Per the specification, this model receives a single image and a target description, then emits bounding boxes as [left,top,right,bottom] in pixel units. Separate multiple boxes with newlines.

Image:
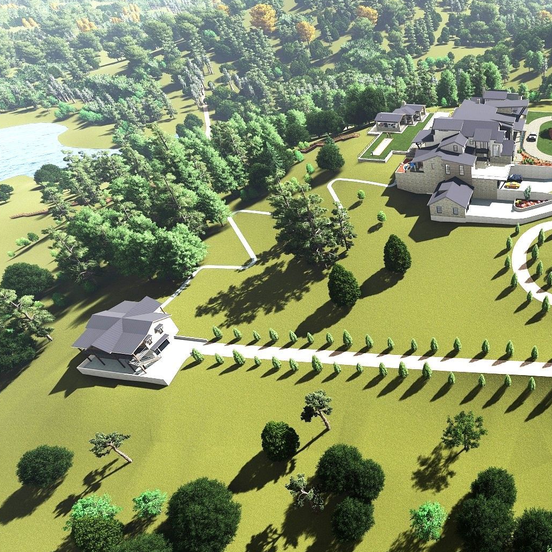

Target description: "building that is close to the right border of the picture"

[394,88,529,222]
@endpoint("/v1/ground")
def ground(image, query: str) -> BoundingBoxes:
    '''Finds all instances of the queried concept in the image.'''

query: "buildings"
[367,94,432,138]
[394,88,529,222]
[70,295,179,374]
